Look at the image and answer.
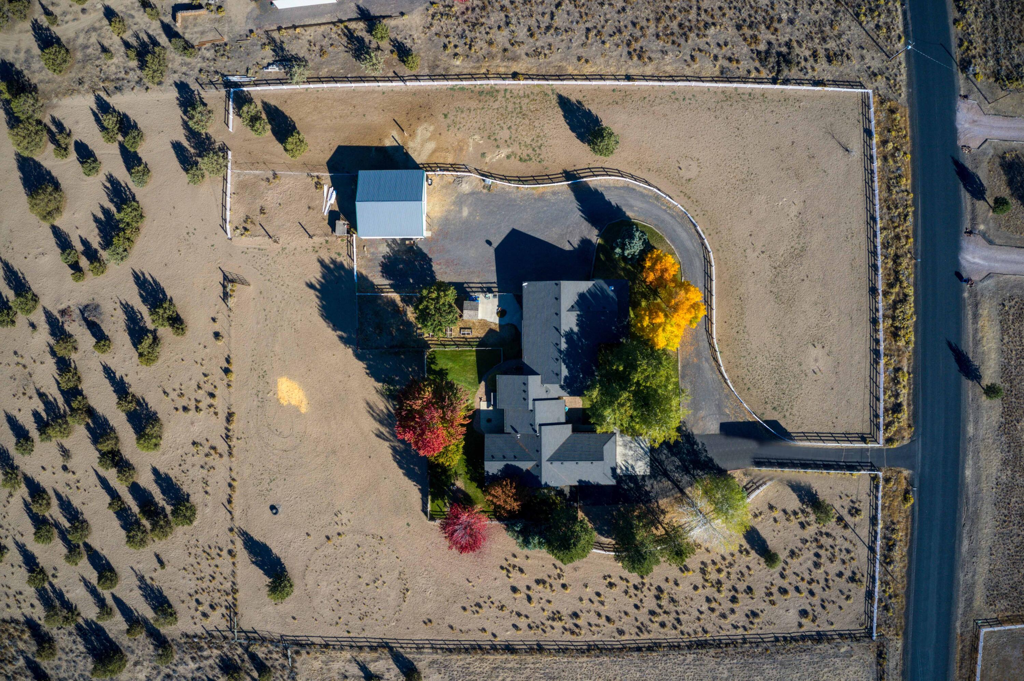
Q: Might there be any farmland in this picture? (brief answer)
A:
Yes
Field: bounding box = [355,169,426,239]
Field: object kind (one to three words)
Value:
barn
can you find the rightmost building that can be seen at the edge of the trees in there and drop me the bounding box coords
[484,278,629,488]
